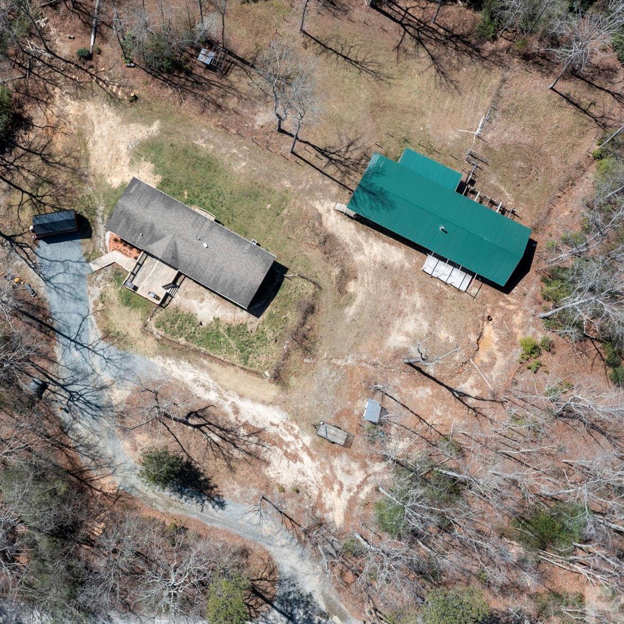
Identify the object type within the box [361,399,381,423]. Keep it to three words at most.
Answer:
shed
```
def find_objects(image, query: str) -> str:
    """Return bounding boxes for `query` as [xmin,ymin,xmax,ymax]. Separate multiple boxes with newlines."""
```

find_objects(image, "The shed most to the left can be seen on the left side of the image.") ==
[33,209,79,237]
